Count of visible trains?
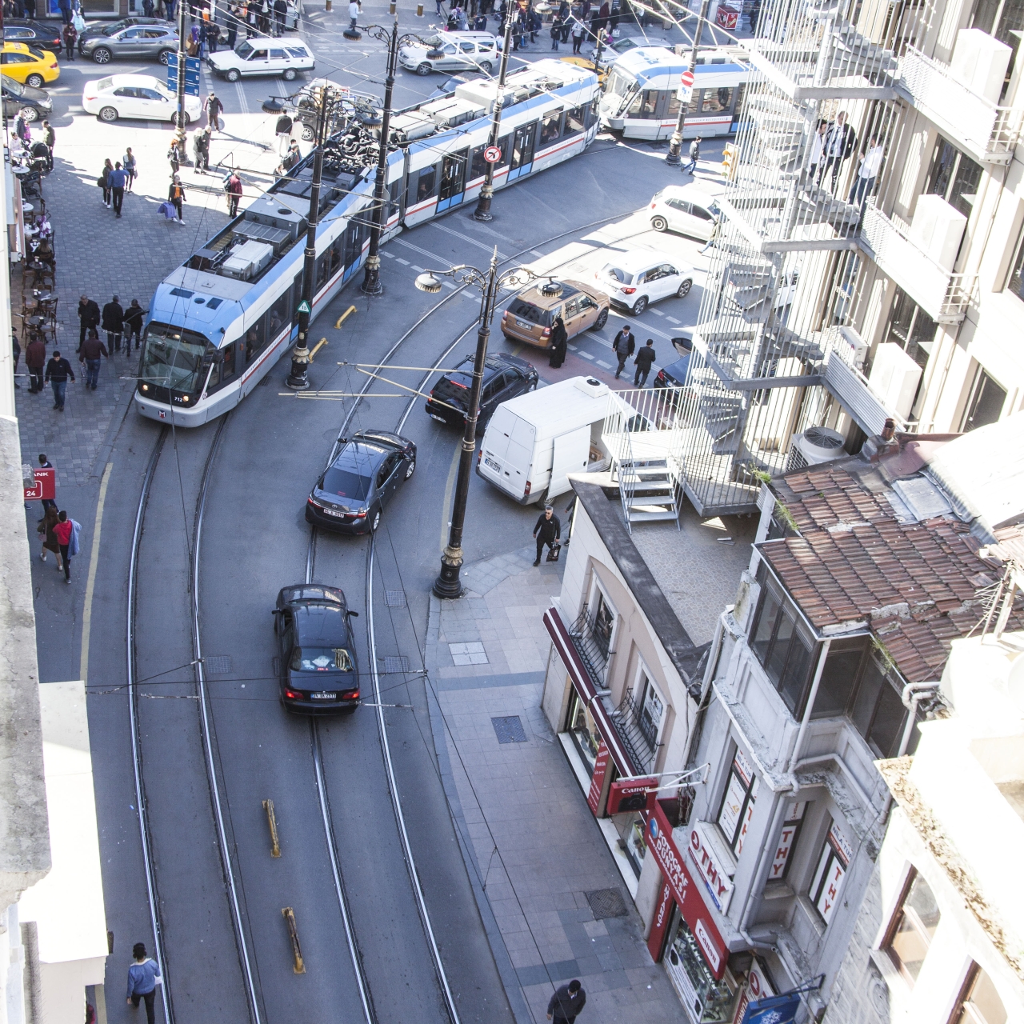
2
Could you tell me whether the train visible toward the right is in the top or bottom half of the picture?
top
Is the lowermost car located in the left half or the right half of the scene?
left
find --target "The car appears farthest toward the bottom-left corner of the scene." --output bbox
[268,575,364,717]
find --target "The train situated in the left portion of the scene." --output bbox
[112,64,612,431]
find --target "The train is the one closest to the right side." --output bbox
[599,46,820,136]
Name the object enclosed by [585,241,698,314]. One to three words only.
car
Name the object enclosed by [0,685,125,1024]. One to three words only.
building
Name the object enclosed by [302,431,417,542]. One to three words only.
car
